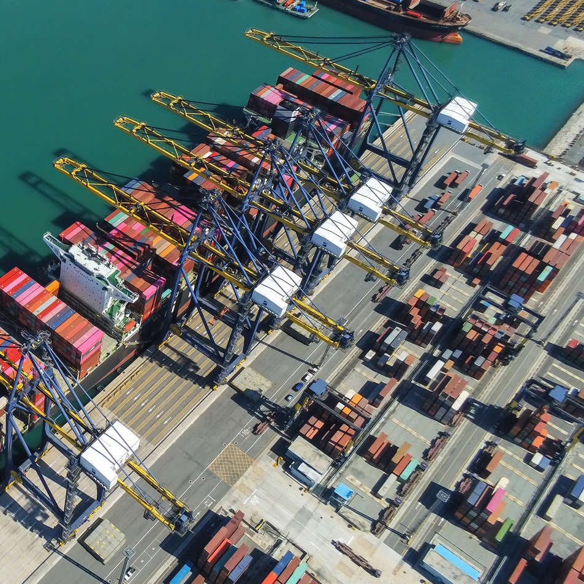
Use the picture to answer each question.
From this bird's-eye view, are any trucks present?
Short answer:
Yes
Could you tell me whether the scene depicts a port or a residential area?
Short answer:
port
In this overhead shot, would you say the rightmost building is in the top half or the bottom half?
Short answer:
bottom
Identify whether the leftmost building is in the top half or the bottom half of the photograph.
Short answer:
bottom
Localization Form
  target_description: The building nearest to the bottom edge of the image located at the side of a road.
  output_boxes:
[414,542,482,584]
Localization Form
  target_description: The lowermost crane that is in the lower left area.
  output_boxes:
[0,315,208,550]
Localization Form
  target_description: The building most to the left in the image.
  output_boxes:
[282,436,335,483]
